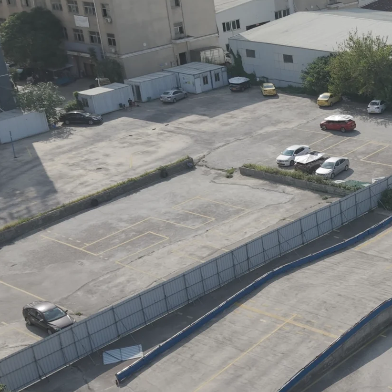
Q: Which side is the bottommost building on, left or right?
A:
left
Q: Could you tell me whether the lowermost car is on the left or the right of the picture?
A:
left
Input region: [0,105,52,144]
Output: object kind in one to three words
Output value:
building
